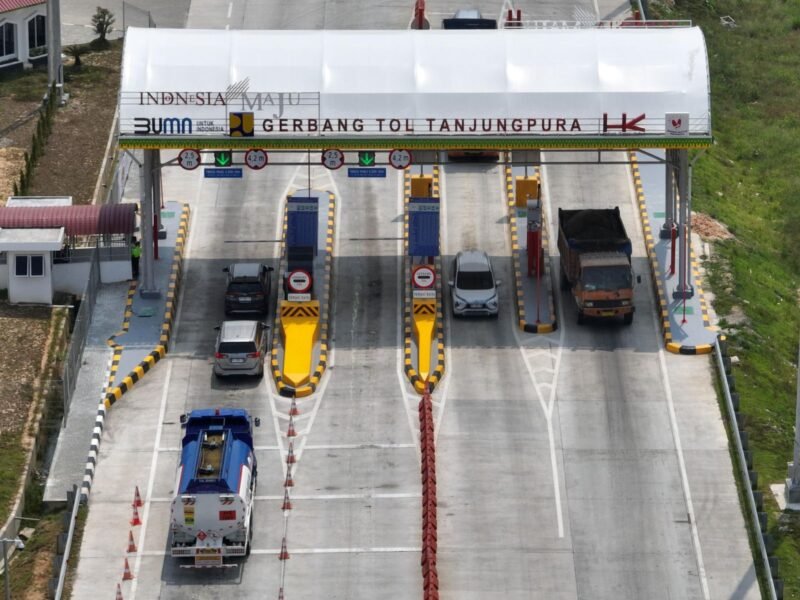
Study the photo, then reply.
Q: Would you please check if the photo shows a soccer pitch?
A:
No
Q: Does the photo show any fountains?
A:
No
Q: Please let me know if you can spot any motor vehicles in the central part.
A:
Yes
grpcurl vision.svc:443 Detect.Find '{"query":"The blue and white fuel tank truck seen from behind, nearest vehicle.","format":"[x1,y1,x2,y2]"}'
[168,404,256,567]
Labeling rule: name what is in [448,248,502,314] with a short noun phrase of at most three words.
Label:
car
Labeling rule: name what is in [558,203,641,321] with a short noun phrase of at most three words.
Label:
truck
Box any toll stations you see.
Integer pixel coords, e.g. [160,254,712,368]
[116,2,715,294]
